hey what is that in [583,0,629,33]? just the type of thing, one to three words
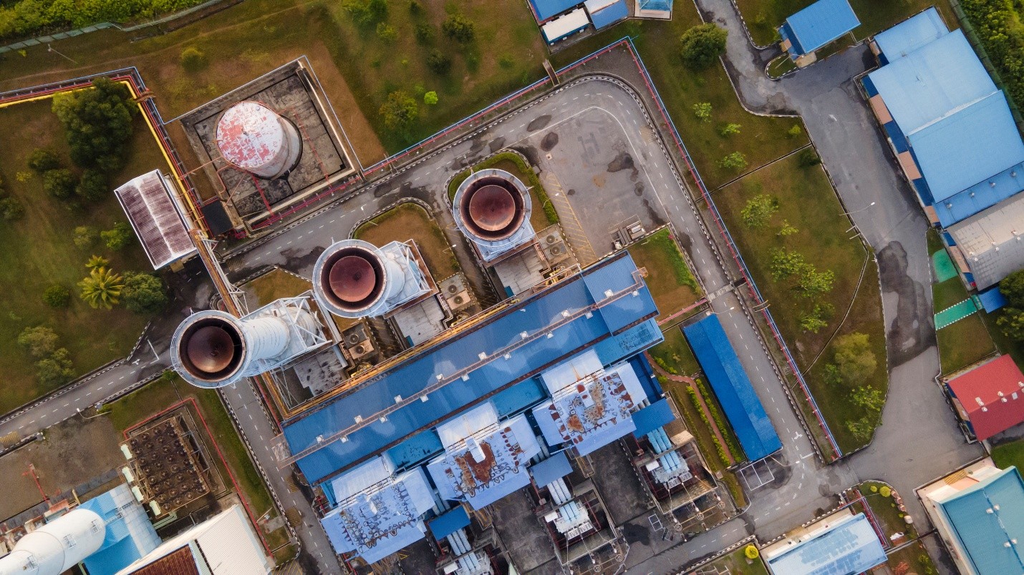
shed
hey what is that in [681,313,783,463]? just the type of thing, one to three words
shed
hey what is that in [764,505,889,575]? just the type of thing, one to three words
building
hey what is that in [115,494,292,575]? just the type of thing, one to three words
building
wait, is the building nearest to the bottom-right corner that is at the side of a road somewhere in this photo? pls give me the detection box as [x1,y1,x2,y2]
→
[927,462,1024,575]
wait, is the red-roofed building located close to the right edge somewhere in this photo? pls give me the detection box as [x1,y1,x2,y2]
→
[940,354,1024,441]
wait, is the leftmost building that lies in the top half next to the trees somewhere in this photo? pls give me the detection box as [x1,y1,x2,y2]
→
[114,169,198,271]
